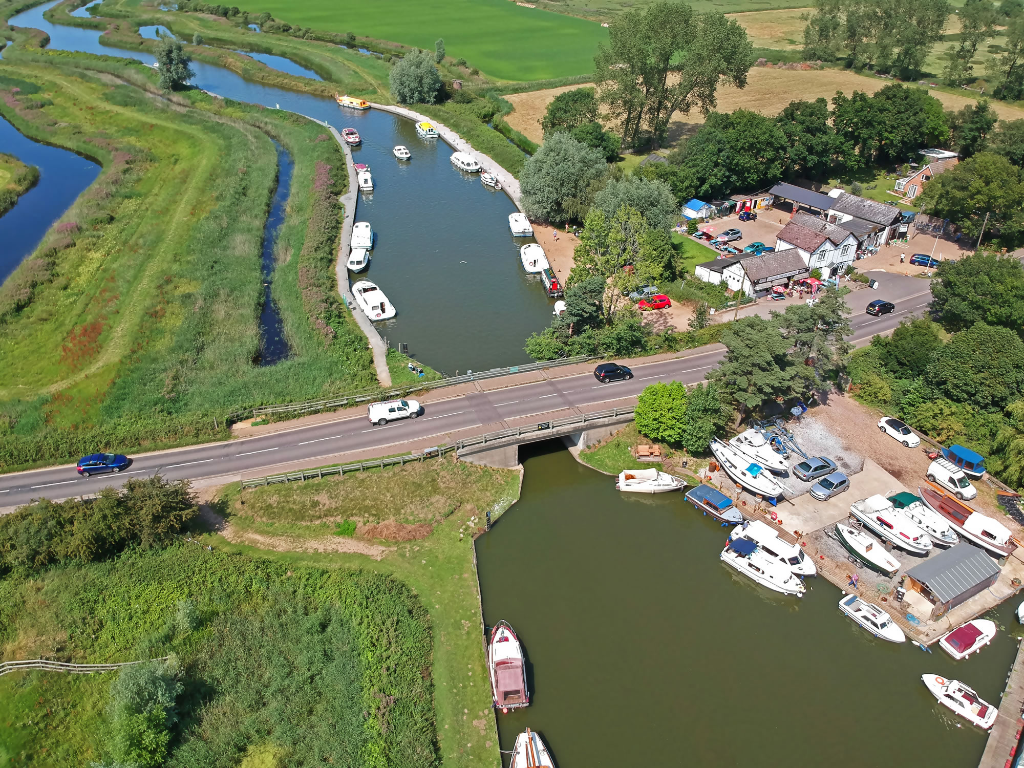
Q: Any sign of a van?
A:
Yes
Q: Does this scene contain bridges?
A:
Yes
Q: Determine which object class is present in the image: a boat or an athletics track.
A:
boat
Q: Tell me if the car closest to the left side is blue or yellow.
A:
blue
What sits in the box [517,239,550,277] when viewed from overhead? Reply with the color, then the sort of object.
white boat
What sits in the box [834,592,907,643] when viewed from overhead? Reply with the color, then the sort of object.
white boat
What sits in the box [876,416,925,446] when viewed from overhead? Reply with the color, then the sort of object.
white car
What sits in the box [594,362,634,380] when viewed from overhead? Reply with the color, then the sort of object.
black car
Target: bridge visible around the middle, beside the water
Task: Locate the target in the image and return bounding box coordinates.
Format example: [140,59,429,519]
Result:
[442,355,643,465]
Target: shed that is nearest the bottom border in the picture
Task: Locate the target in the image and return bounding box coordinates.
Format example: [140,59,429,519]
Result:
[889,542,1001,627]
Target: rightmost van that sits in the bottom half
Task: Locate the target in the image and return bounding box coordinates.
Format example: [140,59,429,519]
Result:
[927,456,982,498]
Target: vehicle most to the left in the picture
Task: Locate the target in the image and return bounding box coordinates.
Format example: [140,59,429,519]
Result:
[72,450,126,474]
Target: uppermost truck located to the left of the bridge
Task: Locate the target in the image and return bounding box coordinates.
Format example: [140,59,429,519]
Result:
[366,396,421,421]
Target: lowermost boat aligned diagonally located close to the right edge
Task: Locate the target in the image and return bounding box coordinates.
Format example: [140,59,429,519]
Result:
[918,675,999,737]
